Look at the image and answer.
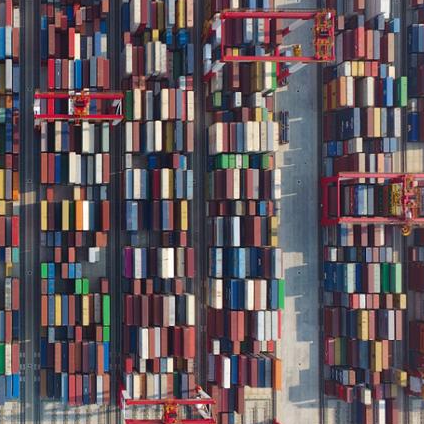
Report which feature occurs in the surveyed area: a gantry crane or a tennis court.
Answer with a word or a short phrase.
gantry crane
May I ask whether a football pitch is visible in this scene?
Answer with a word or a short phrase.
No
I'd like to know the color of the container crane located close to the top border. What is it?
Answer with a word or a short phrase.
red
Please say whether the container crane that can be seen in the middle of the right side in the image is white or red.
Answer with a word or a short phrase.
red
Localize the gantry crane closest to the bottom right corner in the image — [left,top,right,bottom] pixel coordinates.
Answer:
[394,366,424,424]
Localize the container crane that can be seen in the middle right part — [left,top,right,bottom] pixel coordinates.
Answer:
[312,169,424,237]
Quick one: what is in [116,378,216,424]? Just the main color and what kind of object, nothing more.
red container crane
